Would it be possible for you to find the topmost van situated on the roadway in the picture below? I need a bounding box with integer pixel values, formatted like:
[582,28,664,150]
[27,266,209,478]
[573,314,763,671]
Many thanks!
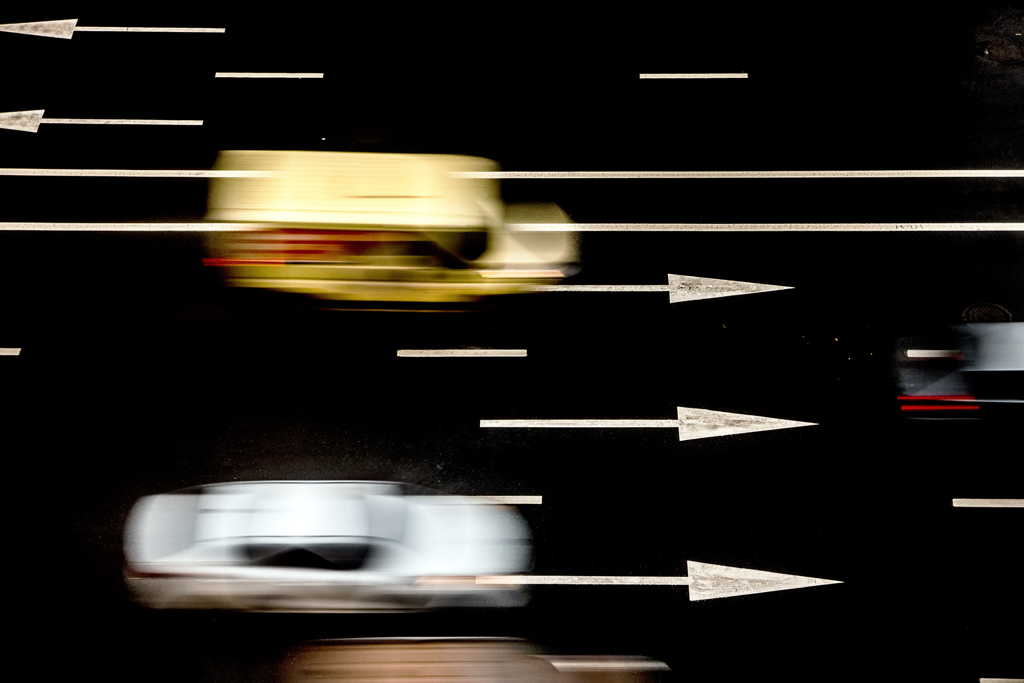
[210,148,579,313]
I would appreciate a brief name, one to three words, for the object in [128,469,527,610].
car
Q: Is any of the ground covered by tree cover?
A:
No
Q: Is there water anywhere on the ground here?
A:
No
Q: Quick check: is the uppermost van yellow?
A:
Yes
